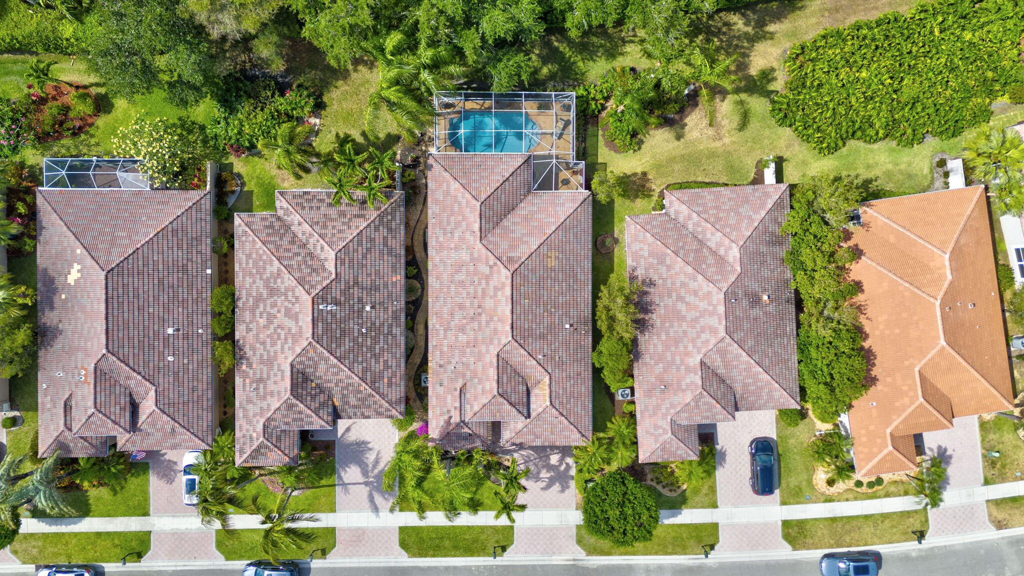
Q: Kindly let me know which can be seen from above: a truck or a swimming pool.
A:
swimming pool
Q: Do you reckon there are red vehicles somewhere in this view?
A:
No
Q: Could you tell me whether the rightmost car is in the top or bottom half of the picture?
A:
bottom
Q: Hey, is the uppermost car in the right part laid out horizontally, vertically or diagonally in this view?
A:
vertically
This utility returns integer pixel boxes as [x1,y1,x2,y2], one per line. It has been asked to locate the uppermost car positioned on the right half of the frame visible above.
[747,435,779,496]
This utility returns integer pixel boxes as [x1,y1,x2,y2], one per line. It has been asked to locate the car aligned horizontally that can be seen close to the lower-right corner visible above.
[823,550,885,576]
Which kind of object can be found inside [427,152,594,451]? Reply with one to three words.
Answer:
house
